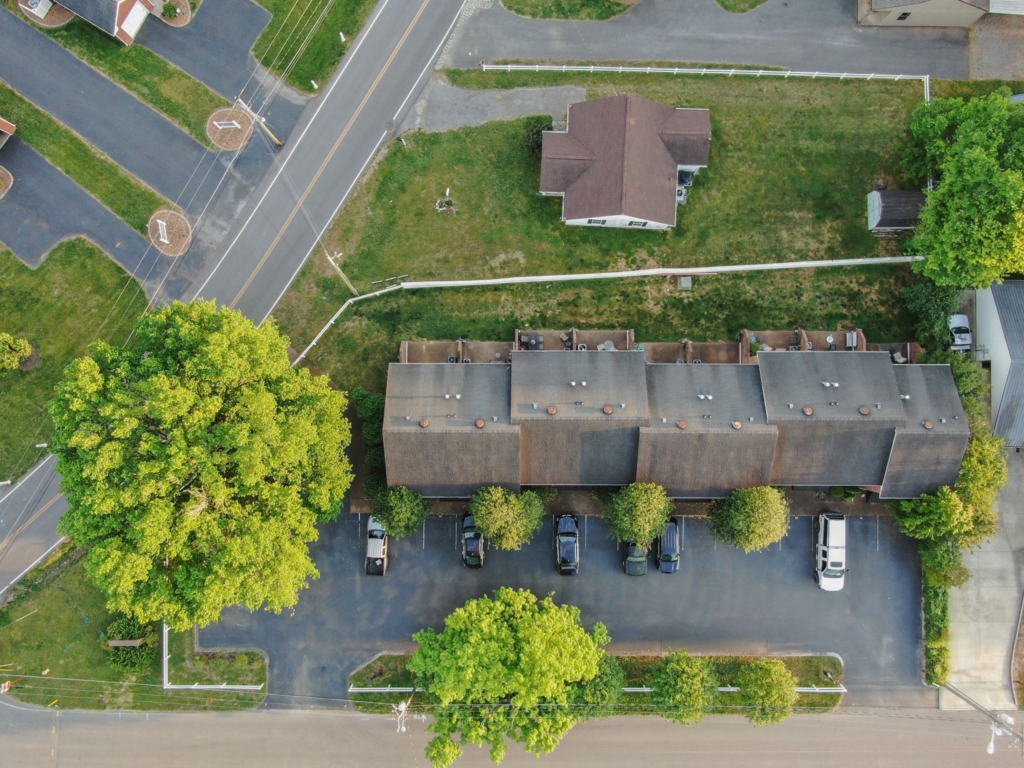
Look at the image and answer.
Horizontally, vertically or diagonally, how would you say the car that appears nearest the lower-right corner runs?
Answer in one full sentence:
The car that appears nearest the lower-right corner is laid out vertically.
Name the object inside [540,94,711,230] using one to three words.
house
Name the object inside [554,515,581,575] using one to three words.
car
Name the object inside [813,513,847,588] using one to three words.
car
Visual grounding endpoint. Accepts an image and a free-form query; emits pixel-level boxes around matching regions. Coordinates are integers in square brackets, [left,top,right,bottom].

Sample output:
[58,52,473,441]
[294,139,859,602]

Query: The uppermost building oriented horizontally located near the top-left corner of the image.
[51,0,155,45]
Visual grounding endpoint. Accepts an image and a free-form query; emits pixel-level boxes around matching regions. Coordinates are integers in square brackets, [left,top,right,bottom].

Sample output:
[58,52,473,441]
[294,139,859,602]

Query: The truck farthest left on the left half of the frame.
[365,514,393,576]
